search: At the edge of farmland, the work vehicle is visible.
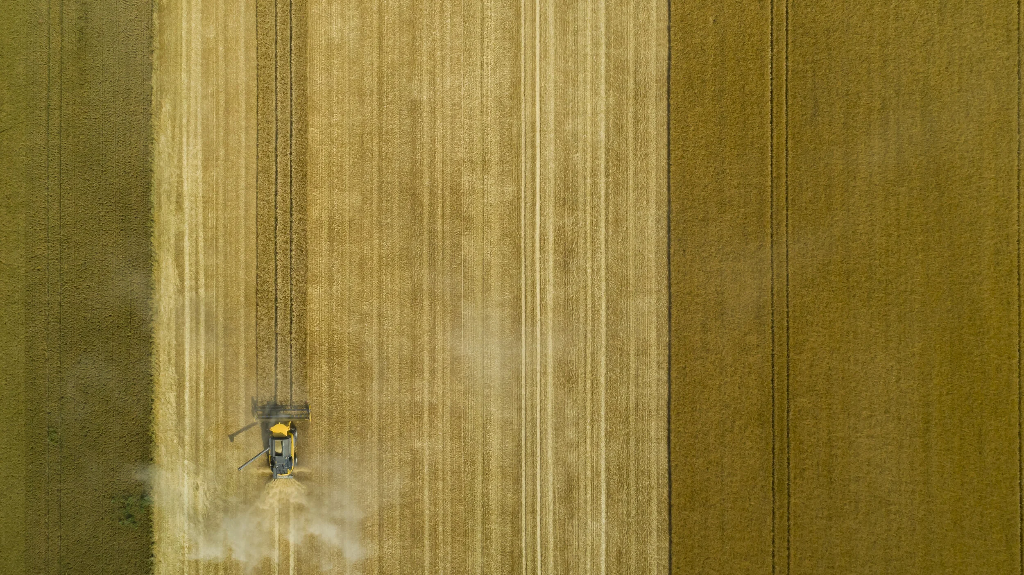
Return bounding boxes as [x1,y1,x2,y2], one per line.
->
[238,400,312,481]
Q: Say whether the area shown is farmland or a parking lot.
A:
farmland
